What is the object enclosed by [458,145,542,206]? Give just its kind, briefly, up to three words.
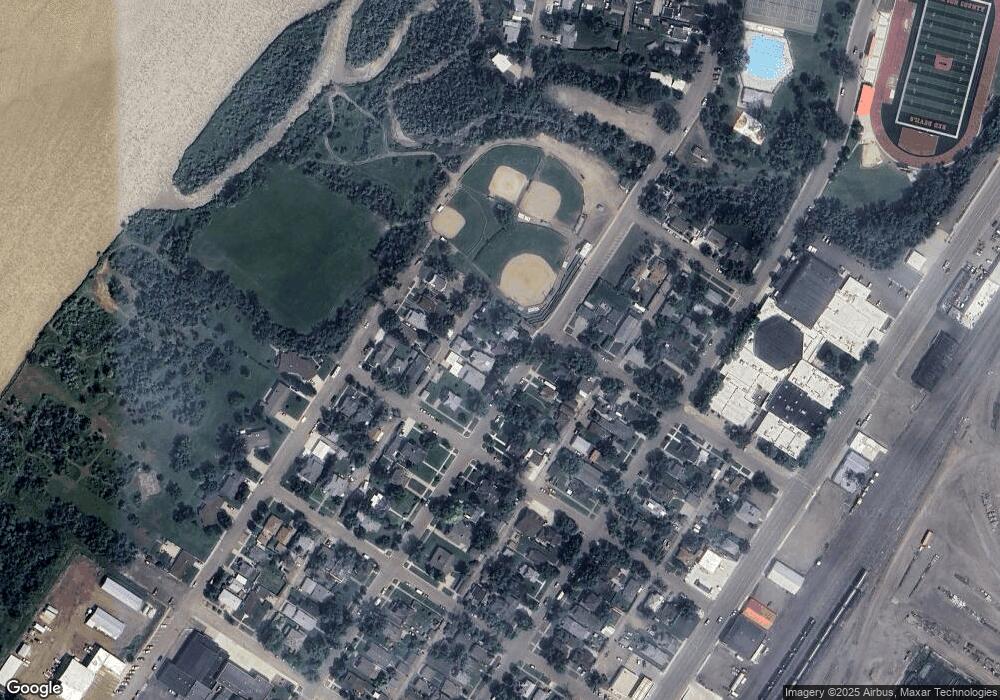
baseball field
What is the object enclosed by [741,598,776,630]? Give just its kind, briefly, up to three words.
building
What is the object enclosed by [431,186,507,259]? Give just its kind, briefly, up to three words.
baseball field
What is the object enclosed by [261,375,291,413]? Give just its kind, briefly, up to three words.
house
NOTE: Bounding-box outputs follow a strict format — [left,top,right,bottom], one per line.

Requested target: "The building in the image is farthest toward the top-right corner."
[857,85,876,114]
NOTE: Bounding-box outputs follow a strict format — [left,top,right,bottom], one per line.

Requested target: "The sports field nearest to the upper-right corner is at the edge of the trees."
[884,0,997,155]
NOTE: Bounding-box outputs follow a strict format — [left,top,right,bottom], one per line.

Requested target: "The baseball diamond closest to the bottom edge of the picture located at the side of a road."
[473,223,569,310]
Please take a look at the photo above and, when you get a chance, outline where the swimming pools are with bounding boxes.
[739,27,793,94]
